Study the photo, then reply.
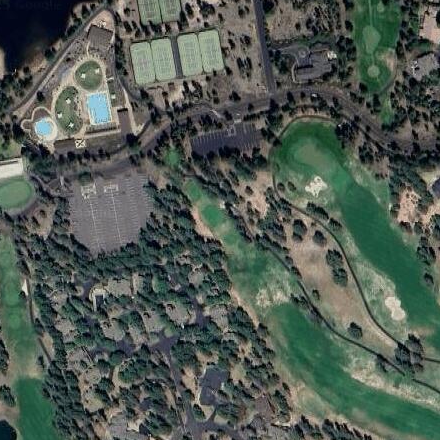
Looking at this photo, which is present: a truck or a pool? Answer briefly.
pool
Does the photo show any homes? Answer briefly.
Yes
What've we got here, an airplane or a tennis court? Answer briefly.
tennis court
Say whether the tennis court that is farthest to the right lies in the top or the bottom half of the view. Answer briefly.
top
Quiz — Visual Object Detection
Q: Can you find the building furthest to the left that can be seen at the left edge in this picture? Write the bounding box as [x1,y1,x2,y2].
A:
[0,158,26,182]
